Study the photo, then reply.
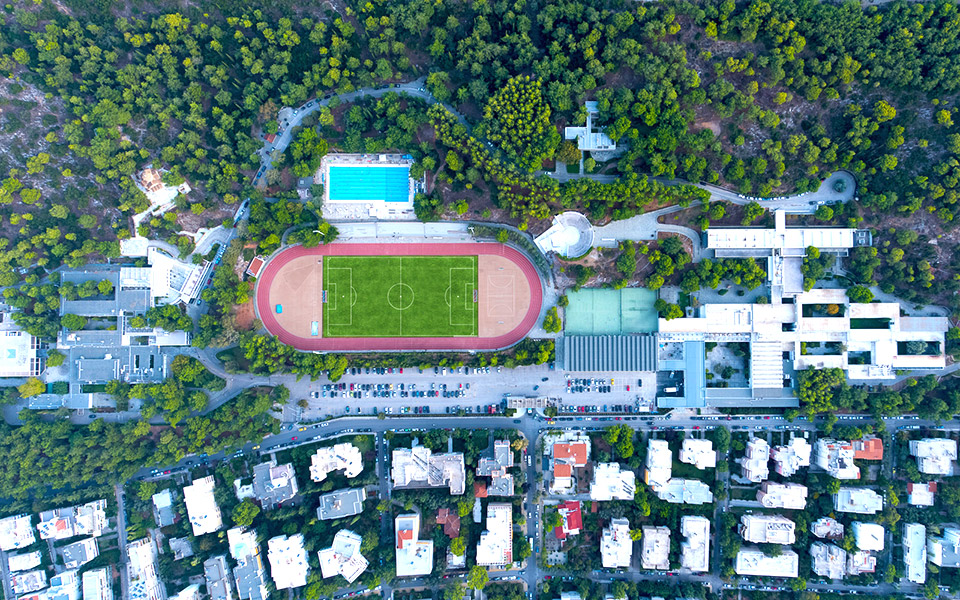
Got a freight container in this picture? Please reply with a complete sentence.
No, there is no freight container in the image.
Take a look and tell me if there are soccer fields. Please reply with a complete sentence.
Yes, the photo shows a soccer field.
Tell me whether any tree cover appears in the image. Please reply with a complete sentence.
Yes, there's tree cover in this view.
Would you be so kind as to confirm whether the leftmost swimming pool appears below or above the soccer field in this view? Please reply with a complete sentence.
Relative to the soccer field, the leftmost swimming pool lies above it.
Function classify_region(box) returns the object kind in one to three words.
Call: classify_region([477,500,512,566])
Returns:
building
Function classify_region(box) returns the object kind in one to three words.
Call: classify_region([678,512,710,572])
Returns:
building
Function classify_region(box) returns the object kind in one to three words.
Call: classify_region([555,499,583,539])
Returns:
house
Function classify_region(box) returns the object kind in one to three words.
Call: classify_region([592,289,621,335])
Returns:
tennis court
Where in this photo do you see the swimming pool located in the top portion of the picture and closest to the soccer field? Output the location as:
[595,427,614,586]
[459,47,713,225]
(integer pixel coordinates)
[320,154,417,219]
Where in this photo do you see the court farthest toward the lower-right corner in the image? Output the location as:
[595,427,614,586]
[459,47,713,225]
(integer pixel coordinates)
[622,289,657,335]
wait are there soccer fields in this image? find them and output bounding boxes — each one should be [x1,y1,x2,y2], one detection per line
[322,256,478,338]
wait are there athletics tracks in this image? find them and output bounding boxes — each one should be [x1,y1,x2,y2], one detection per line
[257,244,543,350]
